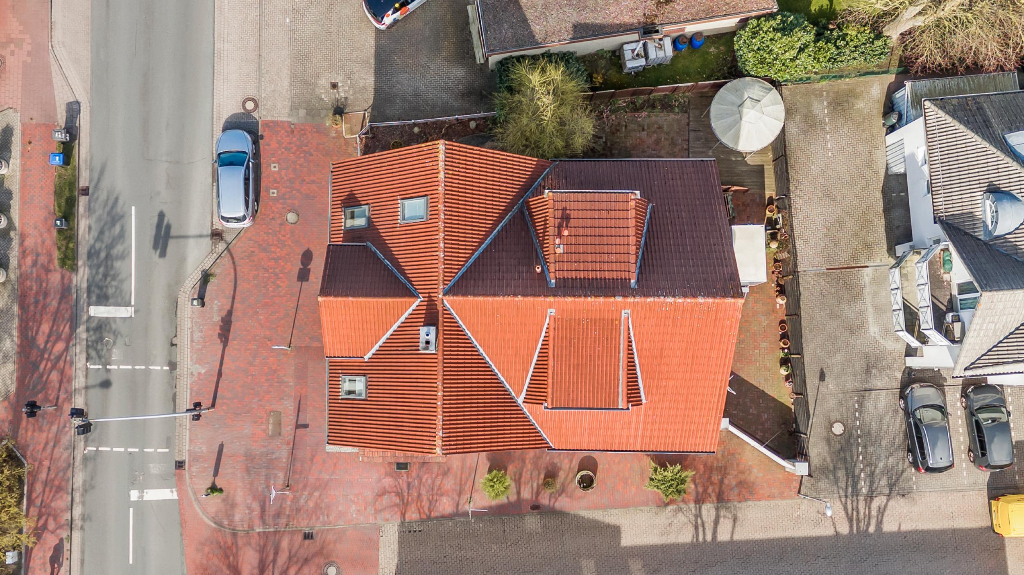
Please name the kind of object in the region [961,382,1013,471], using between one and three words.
car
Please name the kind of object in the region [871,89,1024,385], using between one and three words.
house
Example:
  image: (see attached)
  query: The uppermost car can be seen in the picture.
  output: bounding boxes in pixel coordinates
[362,0,431,29]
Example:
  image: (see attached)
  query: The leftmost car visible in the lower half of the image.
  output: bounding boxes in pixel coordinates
[899,382,951,473]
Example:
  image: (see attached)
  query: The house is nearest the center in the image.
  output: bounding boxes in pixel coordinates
[318,139,746,461]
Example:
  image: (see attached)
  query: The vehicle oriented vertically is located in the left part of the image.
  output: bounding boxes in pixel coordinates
[210,129,258,226]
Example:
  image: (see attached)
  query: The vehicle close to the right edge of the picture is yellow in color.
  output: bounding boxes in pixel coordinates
[985,491,1024,533]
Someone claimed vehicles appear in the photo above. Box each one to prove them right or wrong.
[985,491,1024,533]
[362,0,431,29]
[961,382,1013,471]
[210,129,258,226]
[899,382,951,473]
